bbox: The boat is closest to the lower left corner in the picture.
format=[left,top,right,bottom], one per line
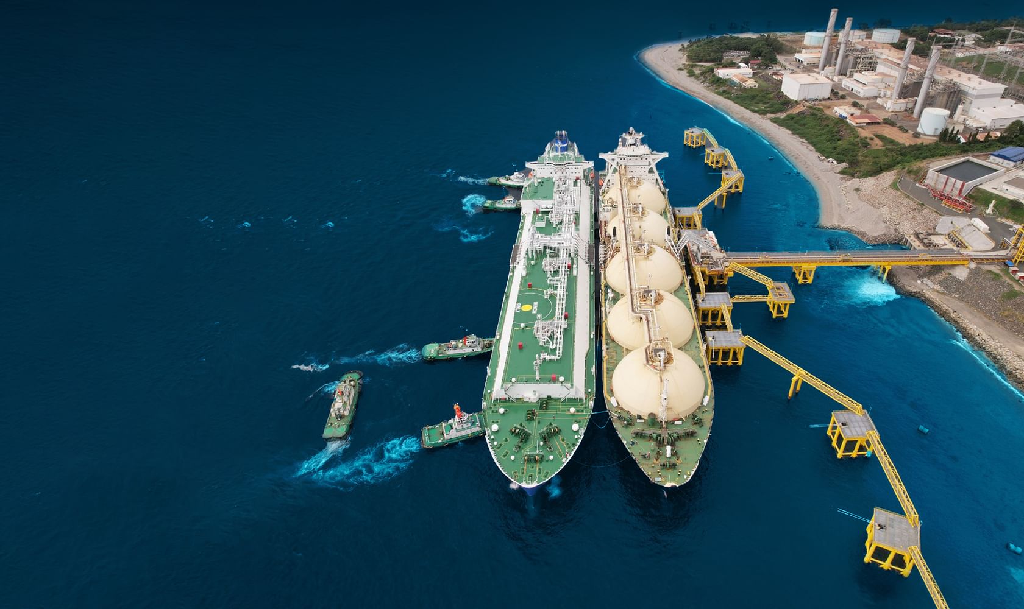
[320,368,366,441]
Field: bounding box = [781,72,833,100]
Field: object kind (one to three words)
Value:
building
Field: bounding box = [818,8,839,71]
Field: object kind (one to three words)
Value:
chimney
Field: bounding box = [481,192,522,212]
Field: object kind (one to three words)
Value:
boat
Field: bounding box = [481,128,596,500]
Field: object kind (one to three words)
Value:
ship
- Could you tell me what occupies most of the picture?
water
